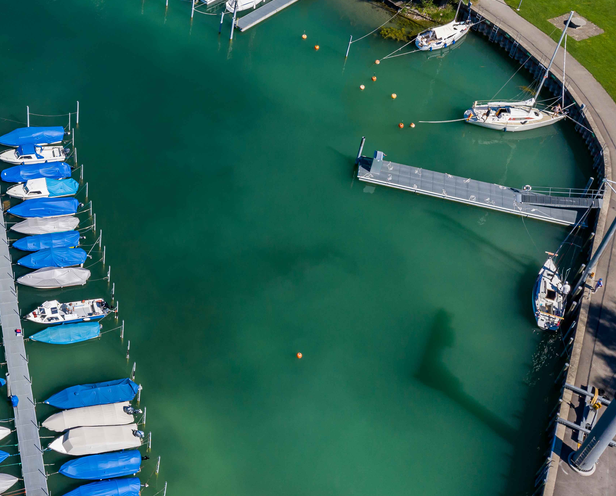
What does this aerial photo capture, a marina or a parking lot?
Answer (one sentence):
The picture captures a marina.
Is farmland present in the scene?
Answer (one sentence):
No, farmland can't be seen anywhere here.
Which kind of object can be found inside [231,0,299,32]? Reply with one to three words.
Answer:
pier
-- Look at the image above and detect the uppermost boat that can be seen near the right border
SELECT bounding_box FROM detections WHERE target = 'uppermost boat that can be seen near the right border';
[423,8,599,138]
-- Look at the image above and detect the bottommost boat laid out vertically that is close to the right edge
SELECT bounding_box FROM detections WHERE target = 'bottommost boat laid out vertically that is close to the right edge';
[527,203,592,361]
